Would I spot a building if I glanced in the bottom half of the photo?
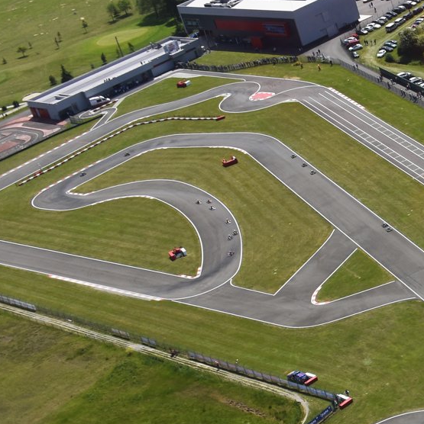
No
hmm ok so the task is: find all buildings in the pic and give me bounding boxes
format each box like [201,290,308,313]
[26,36,198,119]
[177,0,354,45]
